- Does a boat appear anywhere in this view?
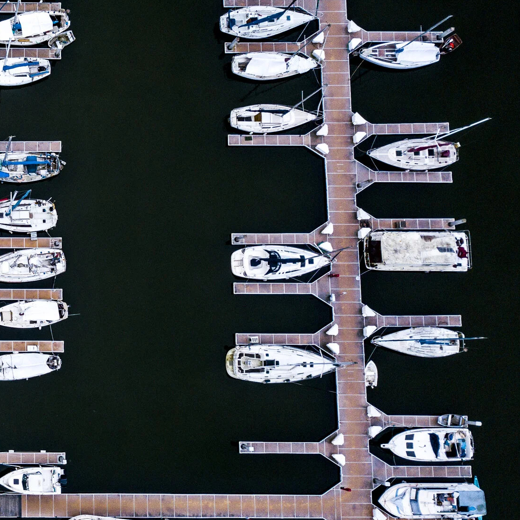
Yes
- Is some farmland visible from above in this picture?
No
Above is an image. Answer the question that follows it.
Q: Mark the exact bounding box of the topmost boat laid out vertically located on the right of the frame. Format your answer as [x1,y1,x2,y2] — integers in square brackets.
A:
[367,352,380,389]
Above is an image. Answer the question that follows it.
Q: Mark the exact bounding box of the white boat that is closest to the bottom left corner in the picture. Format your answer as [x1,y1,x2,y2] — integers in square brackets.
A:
[0,467,79,495]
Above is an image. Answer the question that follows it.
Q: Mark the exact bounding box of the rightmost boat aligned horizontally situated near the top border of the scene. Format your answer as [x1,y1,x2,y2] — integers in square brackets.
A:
[351,14,457,68]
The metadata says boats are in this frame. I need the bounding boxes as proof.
[0,136,66,183]
[225,83,329,135]
[227,23,334,78]
[362,229,480,272]
[216,0,320,43]
[0,0,71,45]
[378,427,474,461]
[351,14,457,68]
[0,239,67,282]
[0,467,79,495]
[0,292,77,341]
[439,414,468,428]
[0,189,59,237]
[223,344,361,384]
[368,327,484,355]
[0,37,52,85]
[441,33,461,53]
[49,30,75,47]
[361,117,494,170]
[228,244,357,281]
[367,352,380,389]
[0,343,62,382]
[373,477,485,520]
